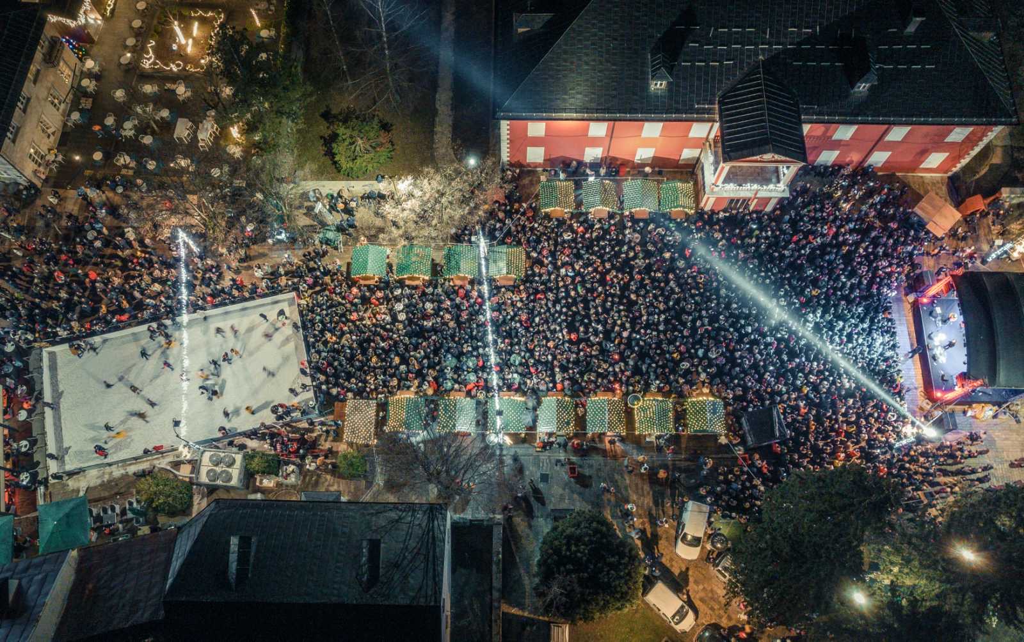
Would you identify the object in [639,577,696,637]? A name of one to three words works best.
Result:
van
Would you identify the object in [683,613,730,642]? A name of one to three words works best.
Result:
car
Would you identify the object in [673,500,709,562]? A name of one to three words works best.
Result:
van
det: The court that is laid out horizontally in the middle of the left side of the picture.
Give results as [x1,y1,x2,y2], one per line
[40,291,321,478]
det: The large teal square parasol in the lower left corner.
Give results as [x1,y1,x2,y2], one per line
[38,496,89,555]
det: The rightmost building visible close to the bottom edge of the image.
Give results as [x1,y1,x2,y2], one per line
[162,499,454,642]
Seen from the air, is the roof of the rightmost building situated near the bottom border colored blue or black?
black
